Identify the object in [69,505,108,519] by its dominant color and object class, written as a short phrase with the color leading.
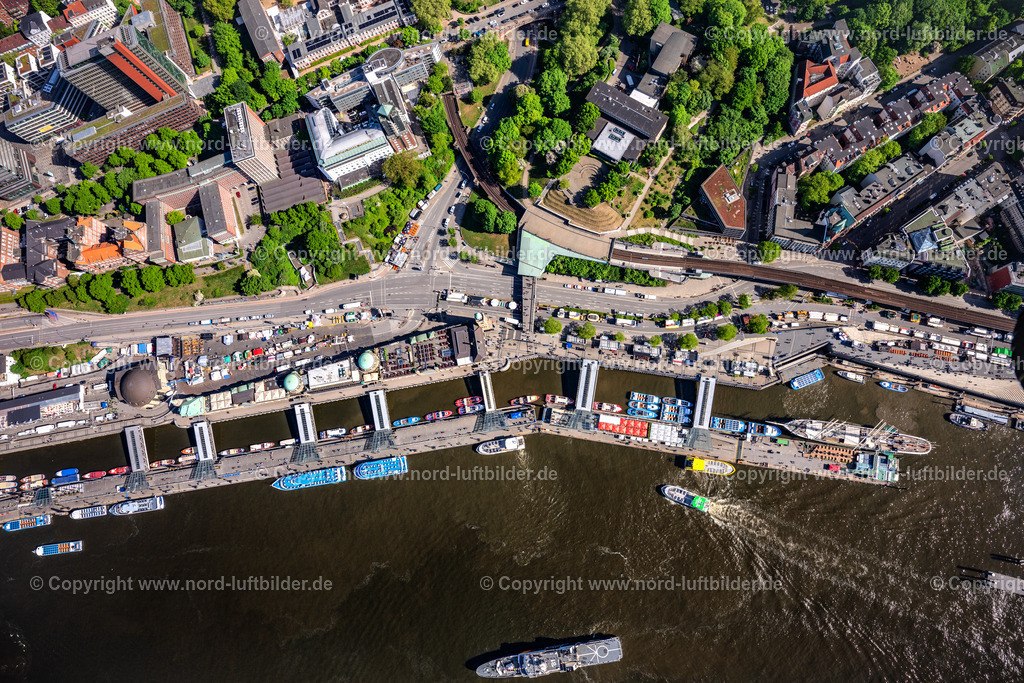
white boat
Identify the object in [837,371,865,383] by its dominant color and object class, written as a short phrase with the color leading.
white boat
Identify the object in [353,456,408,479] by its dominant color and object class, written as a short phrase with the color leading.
blue ship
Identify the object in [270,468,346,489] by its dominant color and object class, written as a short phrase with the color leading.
blue ship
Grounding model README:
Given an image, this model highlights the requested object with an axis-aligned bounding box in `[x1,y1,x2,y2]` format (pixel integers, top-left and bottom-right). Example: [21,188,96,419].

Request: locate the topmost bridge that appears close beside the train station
[439,91,518,220]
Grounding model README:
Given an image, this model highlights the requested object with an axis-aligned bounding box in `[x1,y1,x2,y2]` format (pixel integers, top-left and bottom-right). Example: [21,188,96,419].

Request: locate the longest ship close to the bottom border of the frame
[476,640,624,678]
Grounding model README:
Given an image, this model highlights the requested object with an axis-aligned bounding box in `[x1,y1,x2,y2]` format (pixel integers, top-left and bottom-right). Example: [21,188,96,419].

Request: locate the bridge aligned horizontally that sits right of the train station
[611,247,1024,335]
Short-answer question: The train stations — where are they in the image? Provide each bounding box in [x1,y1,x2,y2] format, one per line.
[517,205,615,277]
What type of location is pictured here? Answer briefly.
port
